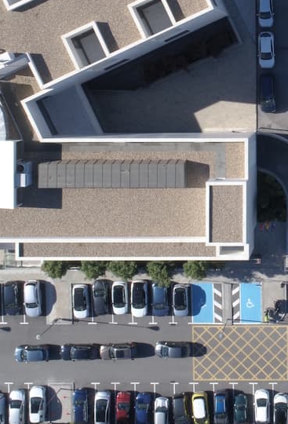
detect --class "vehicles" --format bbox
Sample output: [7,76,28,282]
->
[92,391,112,424]
[27,386,46,423]
[255,0,275,29]
[134,391,152,424]
[72,284,89,317]
[171,284,189,316]
[72,388,90,424]
[100,343,136,362]
[258,73,277,113]
[0,392,7,424]
[2,281,22,315]
[151,283,168,316]
[7,389,27,424]
[156,342,193,359]
[111,281,128,314]
[24,280,42,316]
[114,391,132,424]
[15,344,50,363]
[153,397,169,424]
[129,280,148,316]
[90,280,109,314]
[212,389,229,423]
[232,393,248,423]
[256,31,275,70]
[61,344,97,362]
[272,392,288,424]
[193,391,209,424]
[253,388,270,422]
